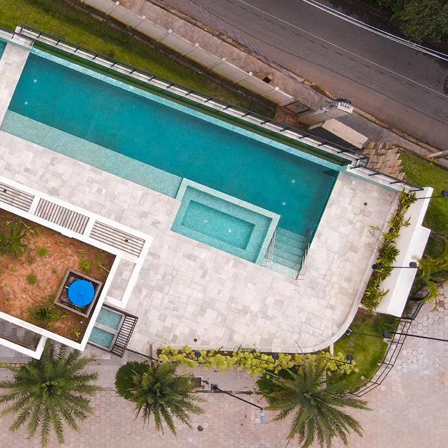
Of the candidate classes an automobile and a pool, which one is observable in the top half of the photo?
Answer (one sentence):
You can see a pool in the top half of the photo.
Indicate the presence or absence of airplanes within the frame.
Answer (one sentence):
No, I can see no airplane in this picture.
